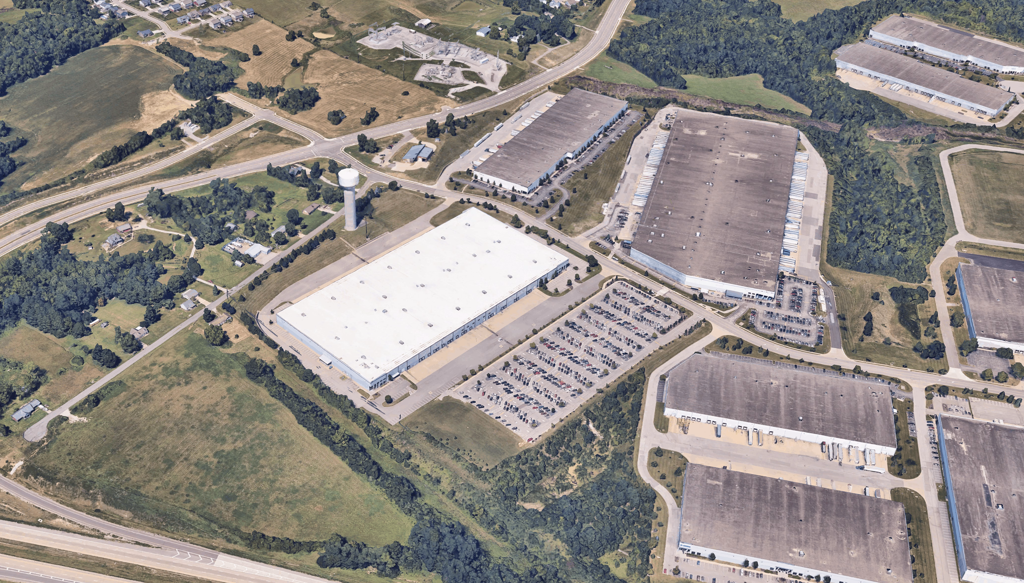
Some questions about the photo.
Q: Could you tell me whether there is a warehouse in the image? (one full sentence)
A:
Yes, the frame does contain a warehouse.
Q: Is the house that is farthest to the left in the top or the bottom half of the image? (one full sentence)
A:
The house that is farthest to the left sits in the bottom half of the picture.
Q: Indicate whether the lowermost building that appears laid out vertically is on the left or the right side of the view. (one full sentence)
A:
It is on the right.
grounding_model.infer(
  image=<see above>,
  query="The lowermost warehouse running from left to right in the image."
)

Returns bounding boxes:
[675,462,914,583]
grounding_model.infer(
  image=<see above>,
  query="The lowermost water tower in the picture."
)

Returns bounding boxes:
[335,167,357,232]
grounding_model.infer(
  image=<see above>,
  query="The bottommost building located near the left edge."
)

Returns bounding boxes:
[3,399,48,425]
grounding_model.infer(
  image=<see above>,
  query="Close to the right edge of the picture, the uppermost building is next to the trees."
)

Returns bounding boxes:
[869,15,1024,75]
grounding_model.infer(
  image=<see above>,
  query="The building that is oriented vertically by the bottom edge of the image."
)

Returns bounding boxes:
[938,413,1024,583]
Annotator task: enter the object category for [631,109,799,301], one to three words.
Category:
warehouse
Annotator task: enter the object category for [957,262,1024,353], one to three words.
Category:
building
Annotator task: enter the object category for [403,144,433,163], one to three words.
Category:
building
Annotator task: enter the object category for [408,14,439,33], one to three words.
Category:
barn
